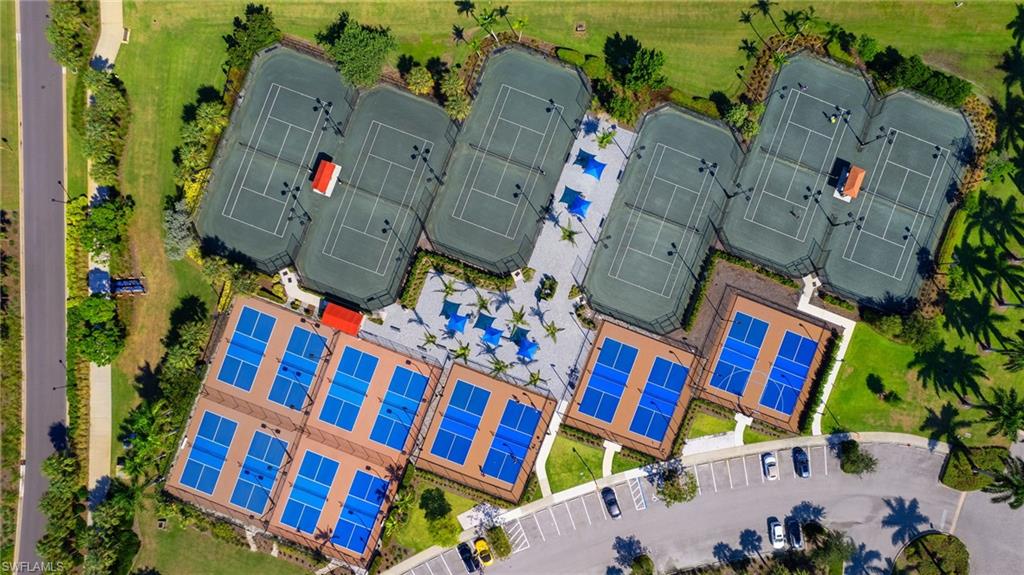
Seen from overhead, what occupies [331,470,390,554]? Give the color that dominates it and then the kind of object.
blue sports court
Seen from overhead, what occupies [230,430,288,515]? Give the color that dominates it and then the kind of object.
blue sports court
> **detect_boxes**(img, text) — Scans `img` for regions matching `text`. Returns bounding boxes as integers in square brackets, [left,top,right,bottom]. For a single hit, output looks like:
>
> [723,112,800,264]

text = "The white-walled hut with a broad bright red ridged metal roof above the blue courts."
[322,302,370,335]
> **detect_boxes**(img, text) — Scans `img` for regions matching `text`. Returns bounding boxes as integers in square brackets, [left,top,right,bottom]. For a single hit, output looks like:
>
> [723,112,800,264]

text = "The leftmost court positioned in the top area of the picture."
[195,45,356,273]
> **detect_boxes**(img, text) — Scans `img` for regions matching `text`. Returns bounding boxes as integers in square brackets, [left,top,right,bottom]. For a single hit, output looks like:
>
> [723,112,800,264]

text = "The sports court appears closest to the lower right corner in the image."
[759,330,818,416]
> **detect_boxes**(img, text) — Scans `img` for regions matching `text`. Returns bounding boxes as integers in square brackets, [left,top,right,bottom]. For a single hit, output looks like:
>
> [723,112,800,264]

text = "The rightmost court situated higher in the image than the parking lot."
[819,87,973,307]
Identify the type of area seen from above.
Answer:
sports ground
